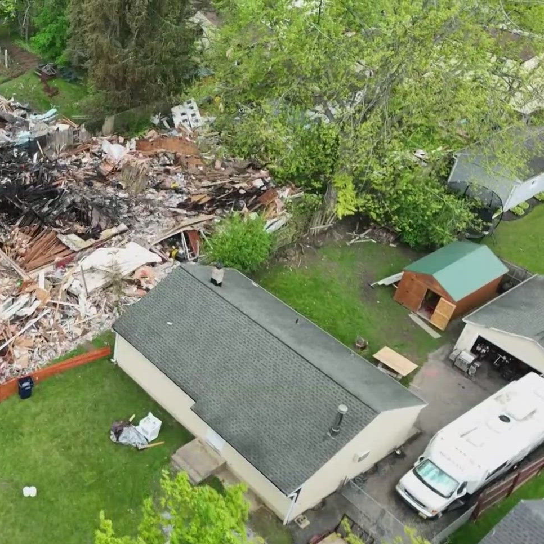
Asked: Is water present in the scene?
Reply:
No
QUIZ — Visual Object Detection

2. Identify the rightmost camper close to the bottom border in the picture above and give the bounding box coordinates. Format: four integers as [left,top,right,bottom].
[394,361,544,524]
